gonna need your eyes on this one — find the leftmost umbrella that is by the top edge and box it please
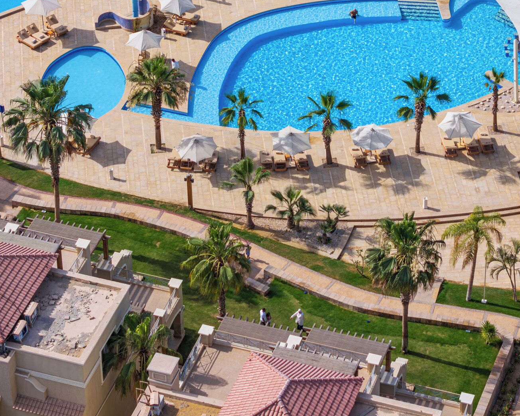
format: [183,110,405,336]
[20,0,63,33]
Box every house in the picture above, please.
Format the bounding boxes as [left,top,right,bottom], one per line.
[0,213,206,416]
[139,313,486,416]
